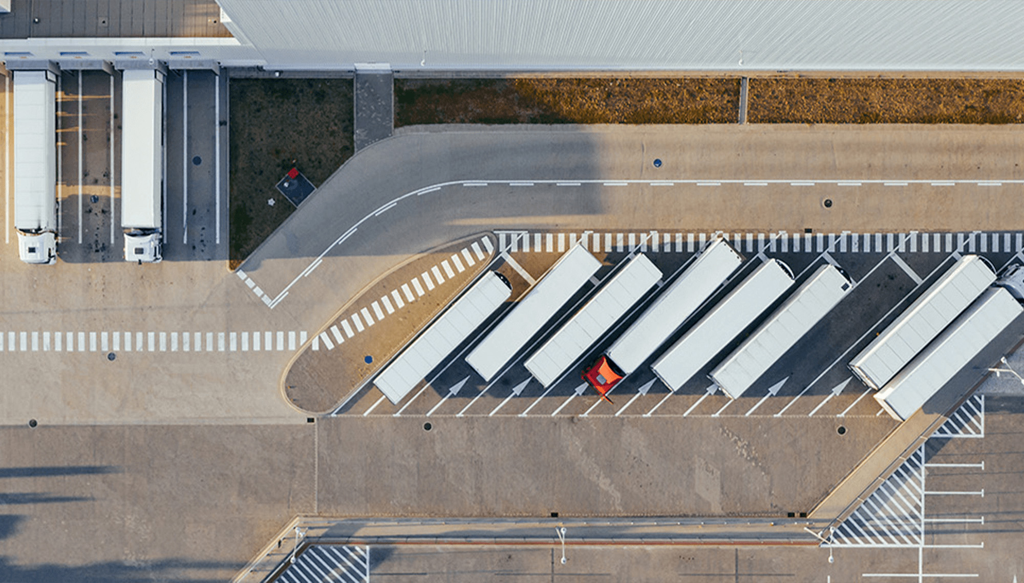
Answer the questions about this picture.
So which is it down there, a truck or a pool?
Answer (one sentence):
This aerial view contains a truck.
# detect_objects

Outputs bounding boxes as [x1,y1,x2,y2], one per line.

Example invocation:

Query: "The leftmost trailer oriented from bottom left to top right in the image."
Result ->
[374,270,511,404]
